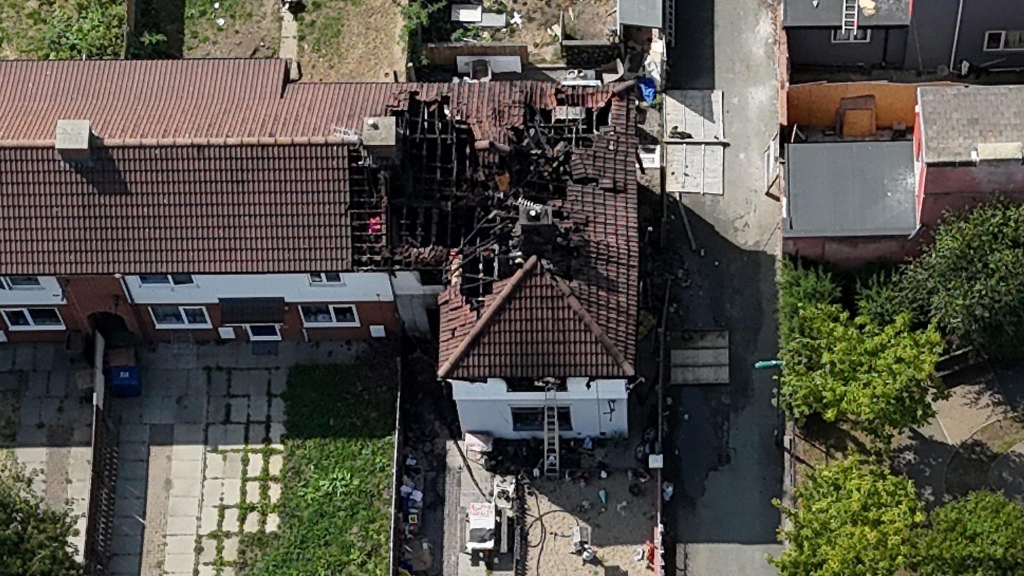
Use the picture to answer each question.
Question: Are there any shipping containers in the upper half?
No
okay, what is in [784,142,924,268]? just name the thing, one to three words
building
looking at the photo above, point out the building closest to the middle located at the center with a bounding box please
[351,48,642,437]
